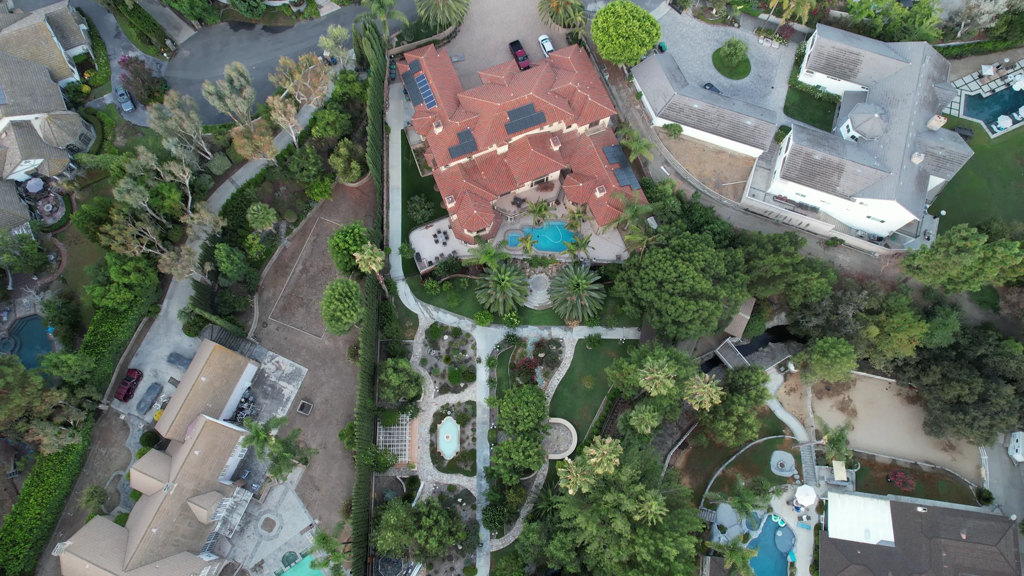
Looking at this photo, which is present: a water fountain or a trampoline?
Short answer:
water fountain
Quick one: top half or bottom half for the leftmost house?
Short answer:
top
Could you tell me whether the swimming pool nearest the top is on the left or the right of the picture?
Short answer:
right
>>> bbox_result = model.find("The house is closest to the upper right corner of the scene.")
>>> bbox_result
[770,23,974,232]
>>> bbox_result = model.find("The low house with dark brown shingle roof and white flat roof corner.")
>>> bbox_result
[811,487,1022,576]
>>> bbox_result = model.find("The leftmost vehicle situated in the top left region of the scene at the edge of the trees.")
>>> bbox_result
[111,80,134,112]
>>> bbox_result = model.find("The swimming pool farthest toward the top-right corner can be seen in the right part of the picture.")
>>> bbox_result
[966,85,1024,130]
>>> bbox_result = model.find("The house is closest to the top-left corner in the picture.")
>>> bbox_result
[0,0,97,233]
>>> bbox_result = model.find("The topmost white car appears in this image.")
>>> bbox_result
[539,31,555,59]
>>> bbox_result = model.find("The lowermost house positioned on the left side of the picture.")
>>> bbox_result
[53,414,247,576]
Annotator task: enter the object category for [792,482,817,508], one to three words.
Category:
umbrella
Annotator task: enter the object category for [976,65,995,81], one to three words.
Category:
umbrella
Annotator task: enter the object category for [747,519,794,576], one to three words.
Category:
swimming pool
